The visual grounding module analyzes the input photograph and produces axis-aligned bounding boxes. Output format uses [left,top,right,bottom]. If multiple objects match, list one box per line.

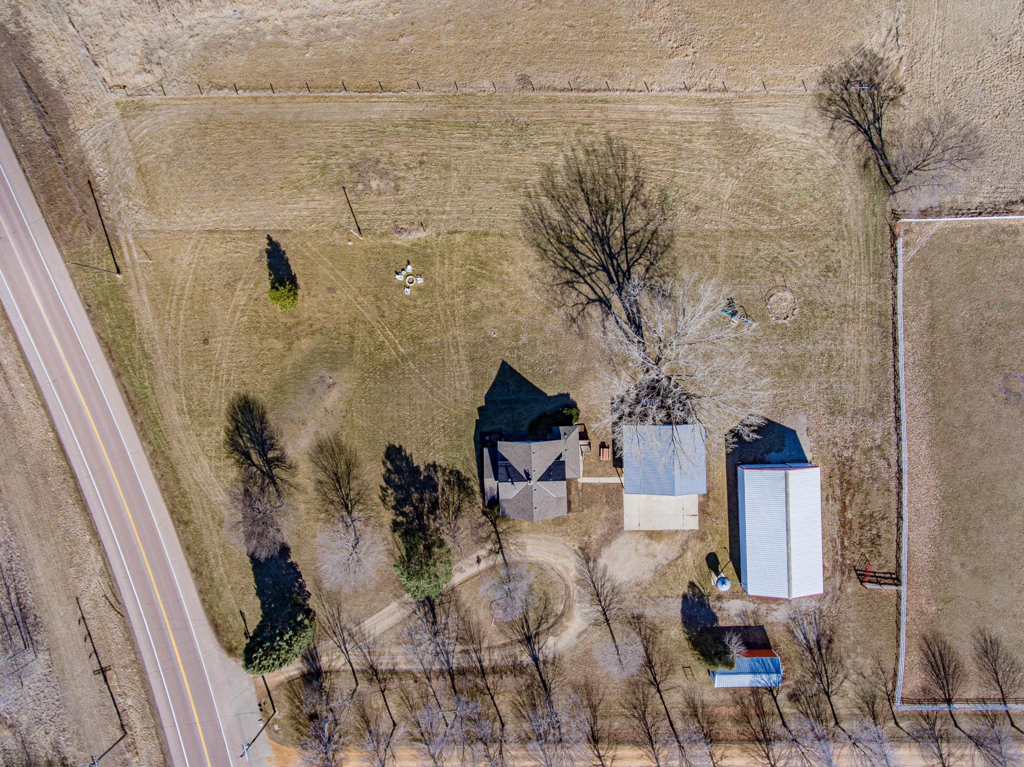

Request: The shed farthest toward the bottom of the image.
[711,650,785,688]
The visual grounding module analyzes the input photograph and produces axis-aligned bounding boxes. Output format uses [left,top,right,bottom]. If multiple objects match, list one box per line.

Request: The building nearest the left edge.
[483,427,592,521]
